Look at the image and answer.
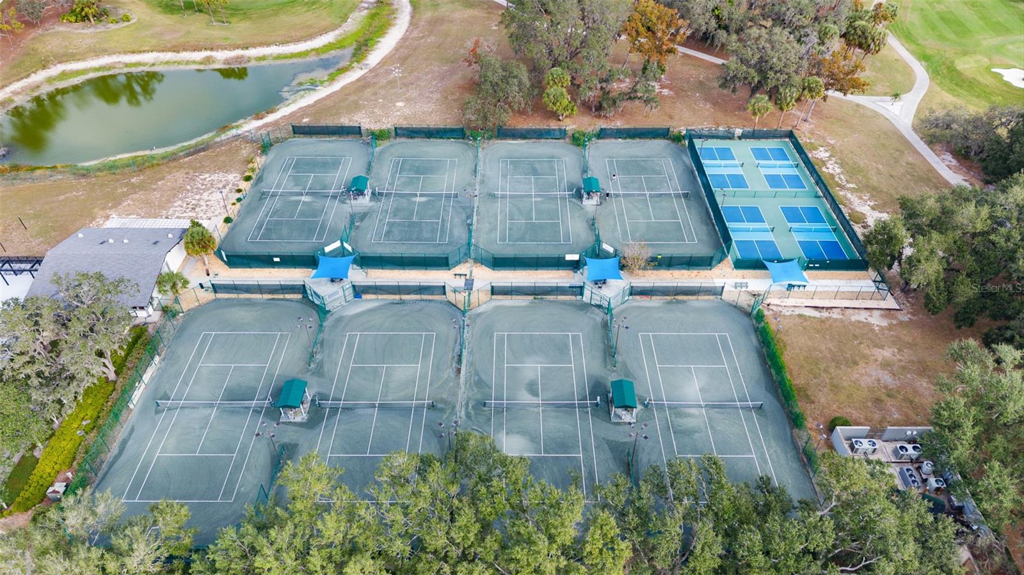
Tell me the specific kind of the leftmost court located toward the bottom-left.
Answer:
tennis court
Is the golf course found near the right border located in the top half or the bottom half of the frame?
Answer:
top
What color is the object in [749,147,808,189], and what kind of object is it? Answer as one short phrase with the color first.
blue sports court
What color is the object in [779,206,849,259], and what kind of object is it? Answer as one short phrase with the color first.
blue sports court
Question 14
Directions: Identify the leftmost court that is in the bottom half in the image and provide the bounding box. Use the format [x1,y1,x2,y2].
[76,300,326,548]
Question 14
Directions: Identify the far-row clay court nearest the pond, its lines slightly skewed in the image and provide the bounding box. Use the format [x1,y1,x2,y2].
[220,138,374,262]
